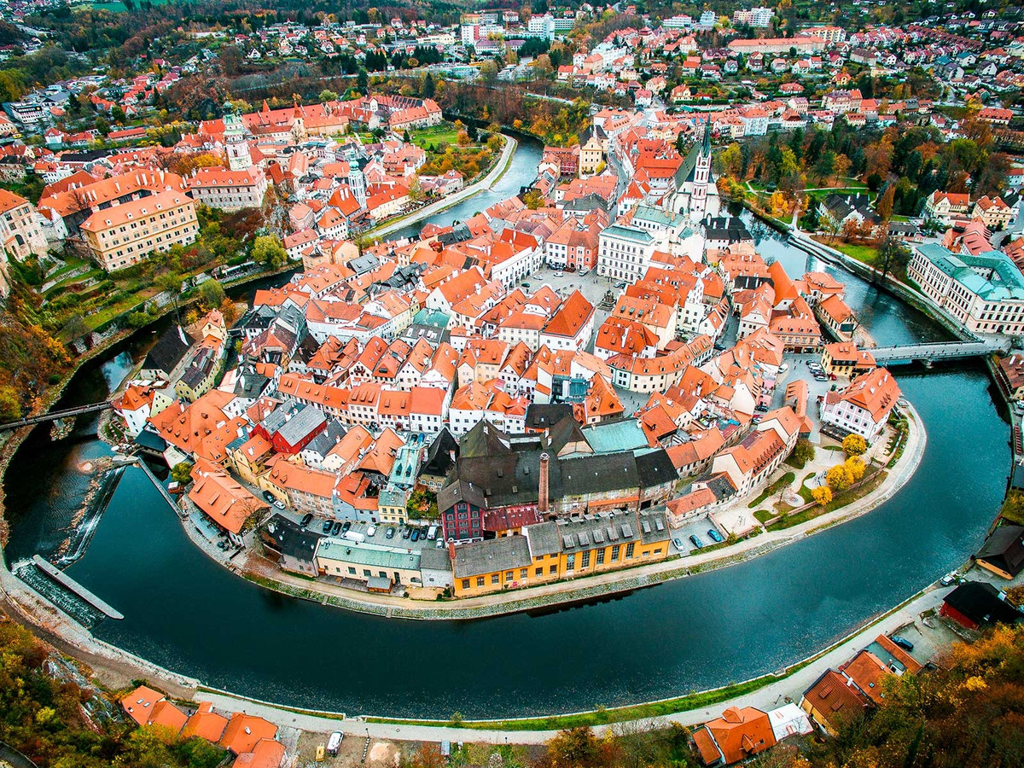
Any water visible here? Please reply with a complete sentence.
Yes, water can be seen from above here.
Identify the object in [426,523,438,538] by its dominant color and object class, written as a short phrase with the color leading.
white vehicle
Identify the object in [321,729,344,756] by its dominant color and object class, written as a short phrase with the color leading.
white vehicle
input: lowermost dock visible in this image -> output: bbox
[32,555,125,621]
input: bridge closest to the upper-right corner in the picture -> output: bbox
[858,338,996,366]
